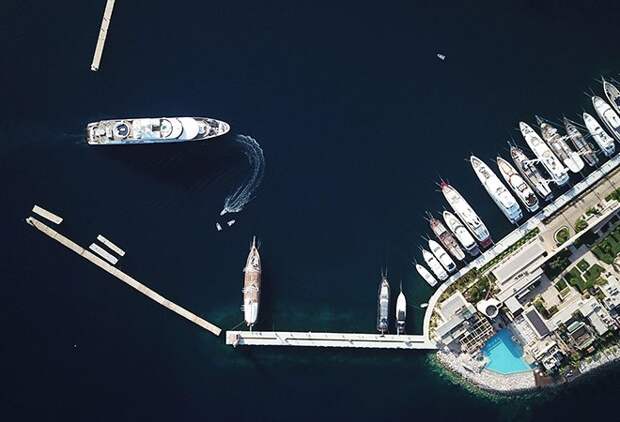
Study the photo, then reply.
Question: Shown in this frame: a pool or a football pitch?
pool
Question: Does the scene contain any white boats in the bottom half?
Yes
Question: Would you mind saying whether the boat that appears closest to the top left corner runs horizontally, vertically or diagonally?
horizontally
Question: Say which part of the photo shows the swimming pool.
bottom right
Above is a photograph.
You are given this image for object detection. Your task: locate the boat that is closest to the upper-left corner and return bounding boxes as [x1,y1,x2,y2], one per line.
[85,117,230,143]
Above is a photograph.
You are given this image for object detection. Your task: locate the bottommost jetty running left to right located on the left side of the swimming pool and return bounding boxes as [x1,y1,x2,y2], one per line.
[226,331,438,351]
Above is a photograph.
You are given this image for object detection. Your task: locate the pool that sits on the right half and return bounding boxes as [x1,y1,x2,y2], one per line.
[478,324,535,376]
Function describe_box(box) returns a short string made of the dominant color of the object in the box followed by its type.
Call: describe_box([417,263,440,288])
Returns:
white boat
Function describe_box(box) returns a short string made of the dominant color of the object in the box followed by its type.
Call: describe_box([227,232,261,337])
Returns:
white vessel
